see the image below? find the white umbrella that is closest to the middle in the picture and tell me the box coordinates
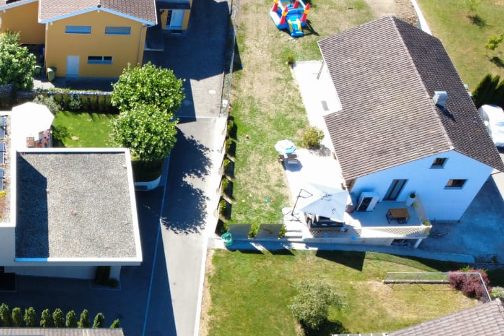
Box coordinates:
[273,143,294,173]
